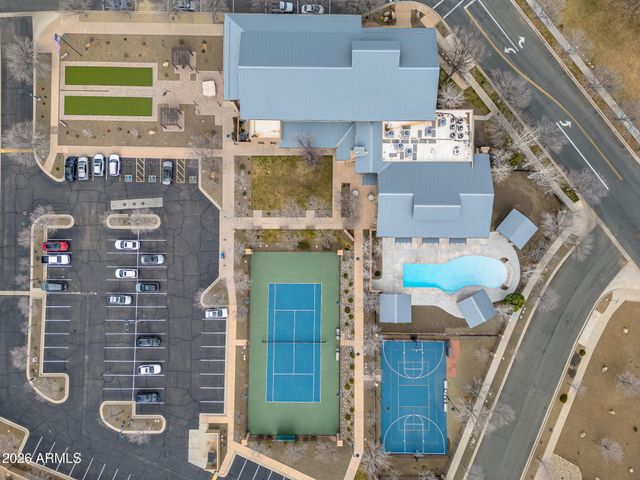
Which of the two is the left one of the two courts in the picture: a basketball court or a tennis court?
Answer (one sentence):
It looks like the left one of the two courts is a tennis court.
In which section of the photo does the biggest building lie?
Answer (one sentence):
The biggest building sits in the top section of the image.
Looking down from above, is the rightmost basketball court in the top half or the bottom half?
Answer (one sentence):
You can find the rightmost basketball court in the bottom half.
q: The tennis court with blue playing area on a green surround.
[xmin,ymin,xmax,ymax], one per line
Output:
[249,252,341,437]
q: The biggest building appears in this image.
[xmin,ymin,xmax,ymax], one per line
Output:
[224,13,494,244]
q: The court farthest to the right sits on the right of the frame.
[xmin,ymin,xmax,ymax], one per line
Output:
[381,341,448,454]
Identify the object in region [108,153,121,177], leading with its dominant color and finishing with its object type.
white vehicle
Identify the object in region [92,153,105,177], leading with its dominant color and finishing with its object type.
white vehicle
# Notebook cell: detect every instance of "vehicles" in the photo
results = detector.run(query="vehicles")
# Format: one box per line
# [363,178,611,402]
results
[136,282,160,293]
[161,161,173,184]
[42,240,69,252]
[204,308,228,319]
[138,364,162,375]
[116,239,140,250]
[41,281,69,292]
[92,153,105,177]
[141,254,166,265]
[174,0,197,11]
[116,268,139,279]
[41,254,71,266]
[63,156,78,181]
[136,392,161,403]
[108,153,121,177]
[137,336,162,348]
[301,2,324,13]
[77,156,90,181]
[109,295,133,306]
[266,0,294,13]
